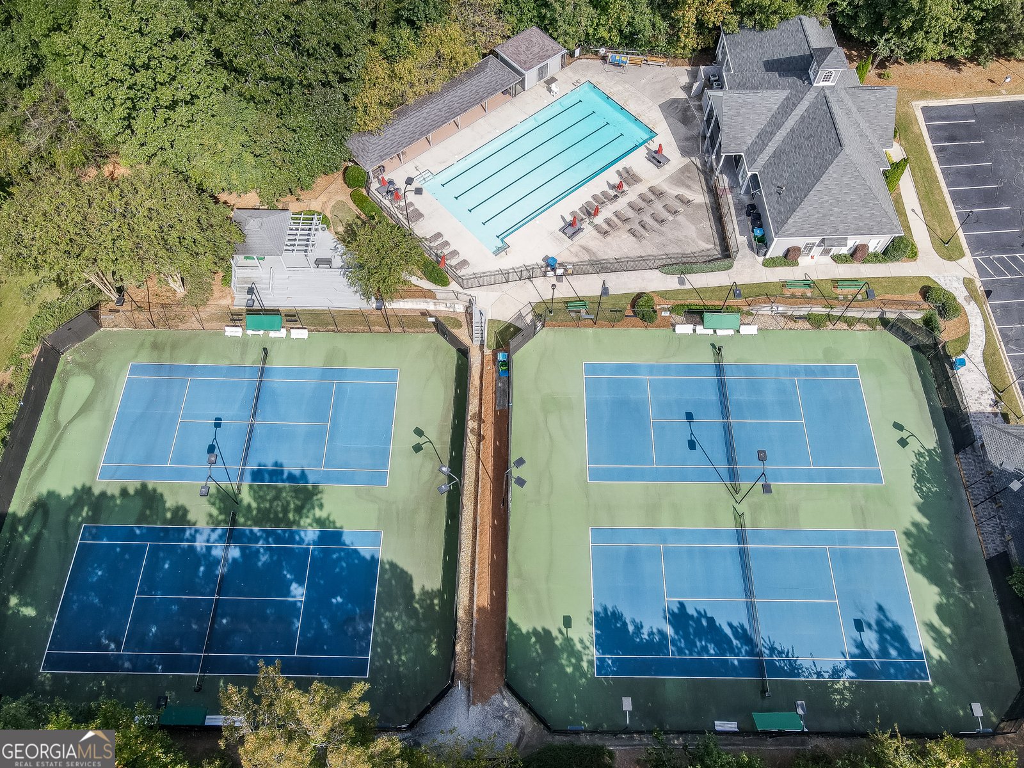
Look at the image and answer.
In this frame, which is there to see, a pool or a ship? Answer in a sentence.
Of the two, only a pool appears.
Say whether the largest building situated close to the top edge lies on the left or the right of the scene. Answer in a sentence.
The largest building situated close to the top edge sits on the right side.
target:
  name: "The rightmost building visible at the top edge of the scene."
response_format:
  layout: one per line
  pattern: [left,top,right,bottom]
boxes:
[700,22,905,257]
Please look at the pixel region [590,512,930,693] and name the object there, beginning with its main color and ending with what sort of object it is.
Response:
blue tennis court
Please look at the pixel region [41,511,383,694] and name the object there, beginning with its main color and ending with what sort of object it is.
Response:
blue tennis court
